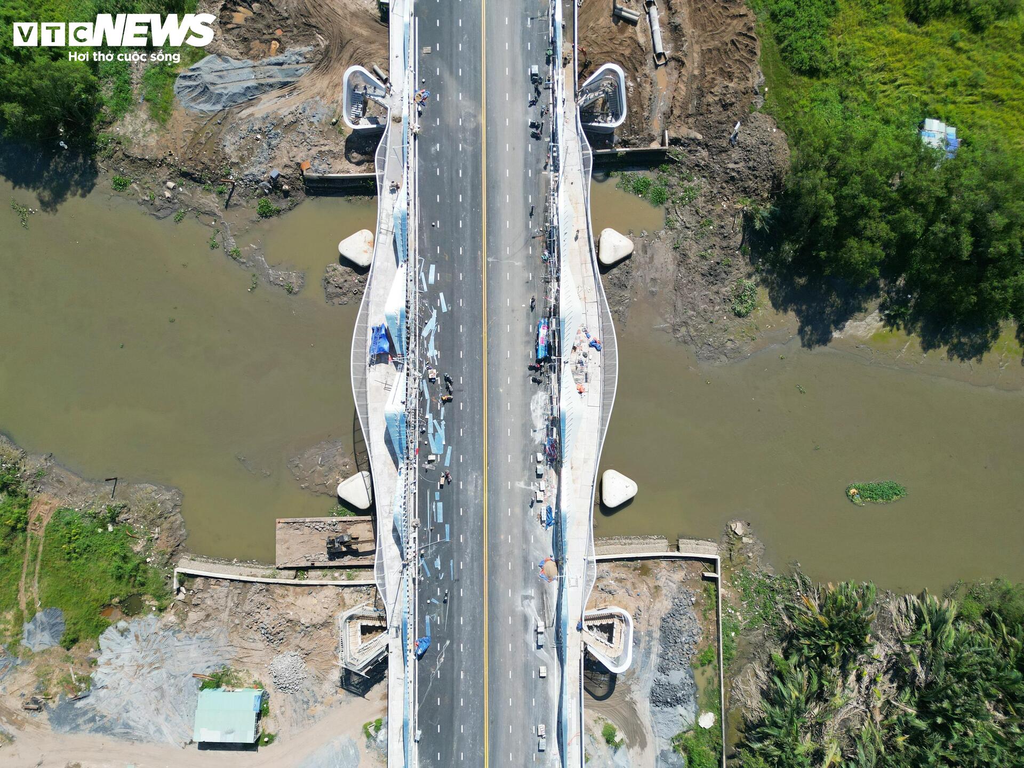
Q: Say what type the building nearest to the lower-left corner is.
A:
home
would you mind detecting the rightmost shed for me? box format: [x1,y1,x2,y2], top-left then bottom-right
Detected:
[921,118,961,156]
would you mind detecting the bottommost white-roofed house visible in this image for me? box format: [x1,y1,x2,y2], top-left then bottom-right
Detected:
[194,685,265,742]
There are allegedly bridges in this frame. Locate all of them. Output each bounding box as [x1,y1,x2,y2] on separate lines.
[350,0,619,768]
